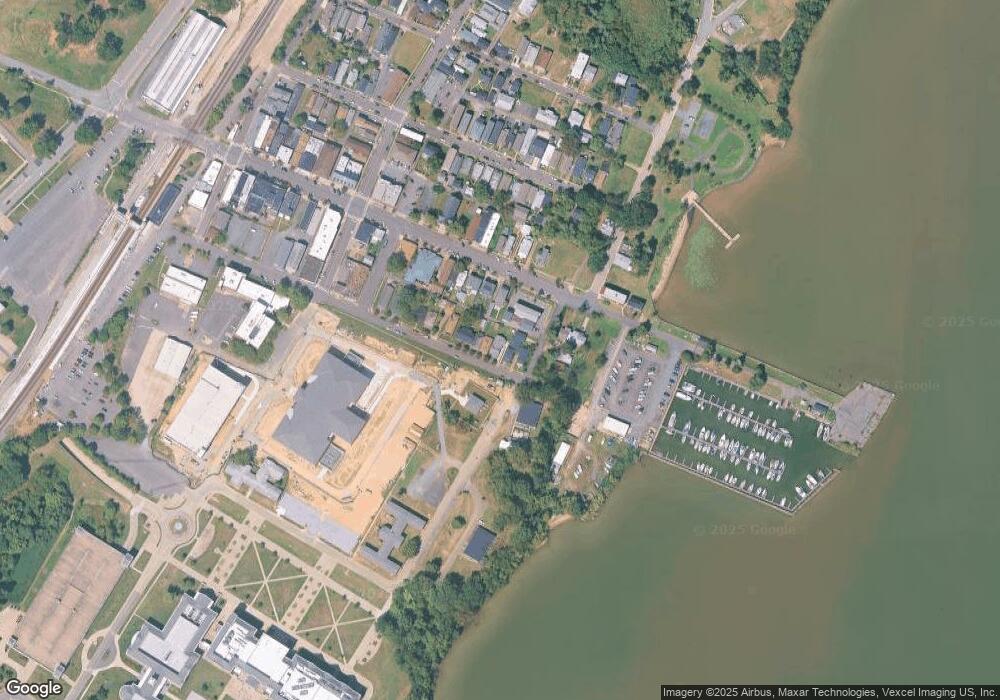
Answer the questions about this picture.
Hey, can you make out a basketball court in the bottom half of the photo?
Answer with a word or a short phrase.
No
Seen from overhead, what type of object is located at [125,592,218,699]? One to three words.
building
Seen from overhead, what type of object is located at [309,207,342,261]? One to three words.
building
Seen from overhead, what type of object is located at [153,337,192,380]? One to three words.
shed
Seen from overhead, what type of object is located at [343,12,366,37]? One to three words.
house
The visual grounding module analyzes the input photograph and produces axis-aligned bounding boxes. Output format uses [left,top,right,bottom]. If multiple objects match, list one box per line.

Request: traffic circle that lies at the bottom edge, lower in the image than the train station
[82,624,126,674]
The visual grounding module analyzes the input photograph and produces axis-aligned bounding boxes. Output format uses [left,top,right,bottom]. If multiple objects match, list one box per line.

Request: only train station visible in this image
[0,151,193,424]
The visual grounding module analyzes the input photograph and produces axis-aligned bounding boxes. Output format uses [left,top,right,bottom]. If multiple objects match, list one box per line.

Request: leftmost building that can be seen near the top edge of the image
[140,9,226,114]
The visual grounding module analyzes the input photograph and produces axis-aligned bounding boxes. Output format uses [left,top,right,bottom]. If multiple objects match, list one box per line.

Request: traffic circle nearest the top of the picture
[157,505,199,547]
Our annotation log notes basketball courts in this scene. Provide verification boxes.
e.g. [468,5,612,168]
[694,108,719,139]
